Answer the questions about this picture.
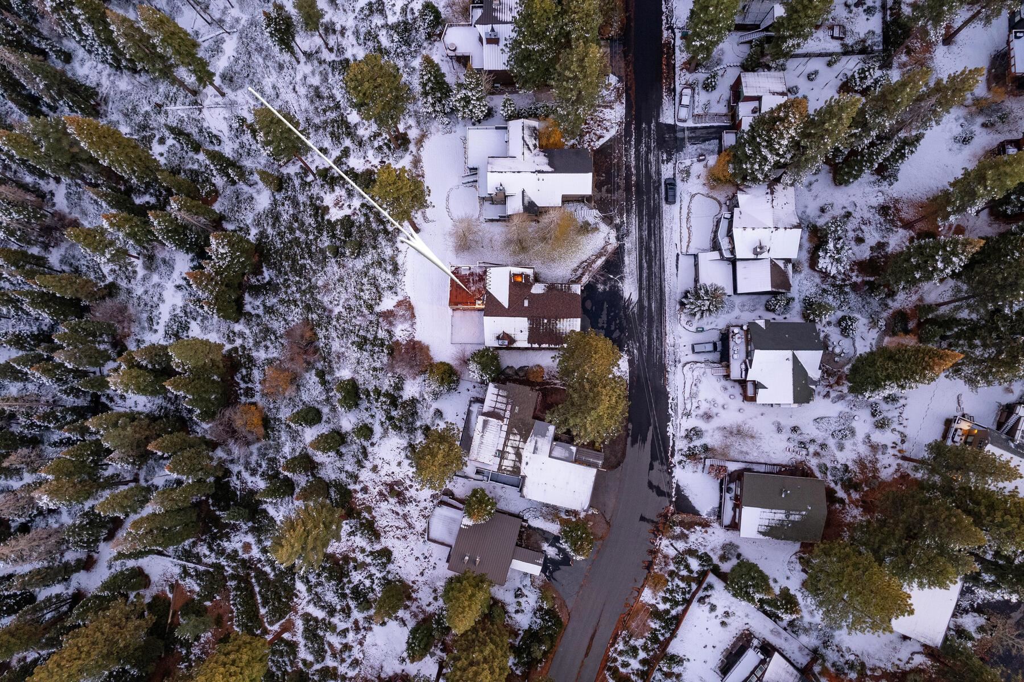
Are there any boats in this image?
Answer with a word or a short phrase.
No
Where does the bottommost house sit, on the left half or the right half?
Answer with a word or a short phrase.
right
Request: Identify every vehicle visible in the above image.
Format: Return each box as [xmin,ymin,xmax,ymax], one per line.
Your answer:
[676,88,693,121]
[664,178,678,205]
[690,340,725,354]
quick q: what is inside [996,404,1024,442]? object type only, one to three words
house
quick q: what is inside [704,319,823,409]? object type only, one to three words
building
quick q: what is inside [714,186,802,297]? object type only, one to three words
house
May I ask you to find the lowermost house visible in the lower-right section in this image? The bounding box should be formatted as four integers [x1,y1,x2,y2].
[716,641,807,682]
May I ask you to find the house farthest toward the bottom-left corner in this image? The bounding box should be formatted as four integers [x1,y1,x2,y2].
[427,495,544,585]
